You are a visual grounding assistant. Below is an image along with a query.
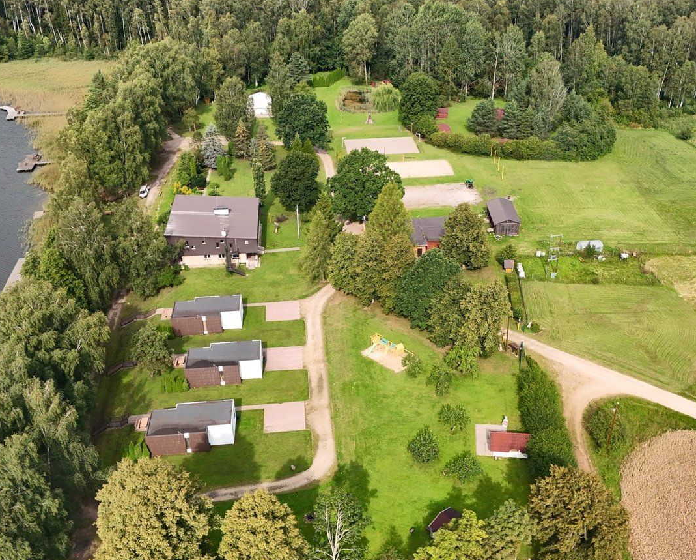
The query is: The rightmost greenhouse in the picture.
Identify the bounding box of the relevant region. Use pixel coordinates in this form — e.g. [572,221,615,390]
[572,235,603,251]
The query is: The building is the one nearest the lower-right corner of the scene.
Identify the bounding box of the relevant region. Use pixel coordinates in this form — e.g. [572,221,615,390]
[488,422,534,459]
